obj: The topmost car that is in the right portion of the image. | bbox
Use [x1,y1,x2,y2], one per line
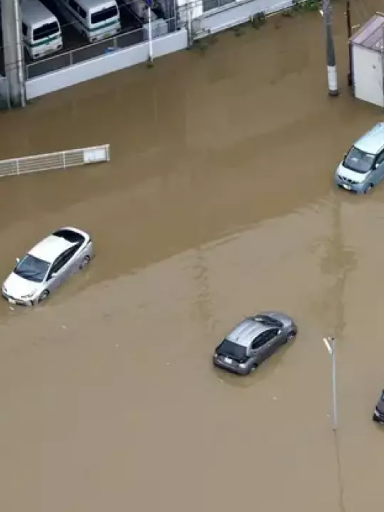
[335,123,384,194]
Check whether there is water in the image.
Yes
